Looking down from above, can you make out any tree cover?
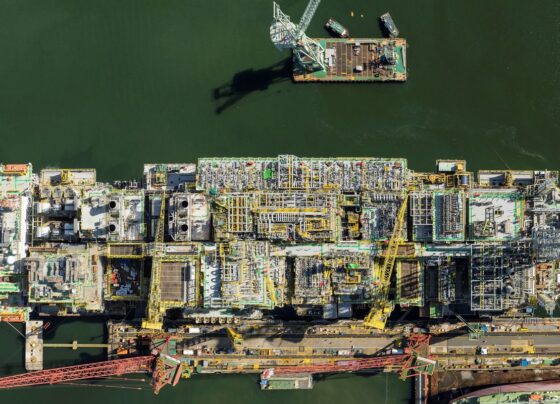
No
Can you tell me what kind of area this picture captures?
port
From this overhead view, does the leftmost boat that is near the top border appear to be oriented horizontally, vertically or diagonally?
diagonally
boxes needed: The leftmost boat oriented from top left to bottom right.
[325,19,349,40]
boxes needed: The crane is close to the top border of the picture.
[273,0,407,84]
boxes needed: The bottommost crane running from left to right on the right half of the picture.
[261,332,441,380]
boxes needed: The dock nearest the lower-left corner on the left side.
[23,317,49,370]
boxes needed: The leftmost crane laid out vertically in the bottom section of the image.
[141,190,170,329]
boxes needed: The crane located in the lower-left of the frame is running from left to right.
[0,336,188,396]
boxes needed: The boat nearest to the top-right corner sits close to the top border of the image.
[380,13,399,40]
